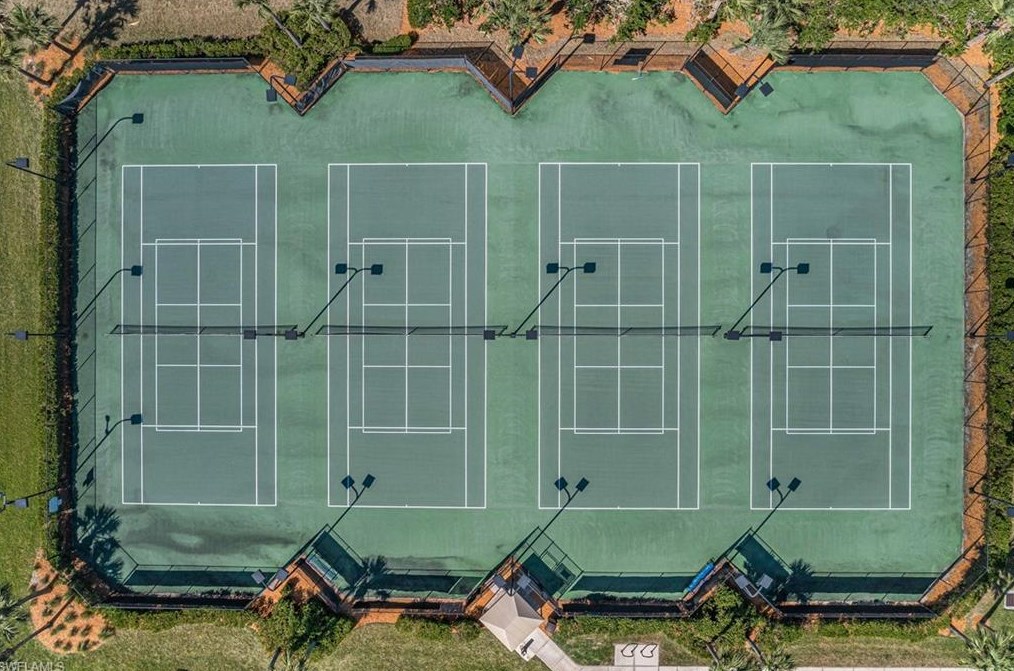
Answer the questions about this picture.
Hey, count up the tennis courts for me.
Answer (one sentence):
Altogether the scene contains 4 tennis courts.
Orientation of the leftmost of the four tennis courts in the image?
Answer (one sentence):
From this overhead view, the leftmost of the four tennis courts appears to run vertically.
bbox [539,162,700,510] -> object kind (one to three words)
tennis court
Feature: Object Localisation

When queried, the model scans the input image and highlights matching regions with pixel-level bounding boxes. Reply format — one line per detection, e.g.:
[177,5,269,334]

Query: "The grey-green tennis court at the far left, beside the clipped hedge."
[122,163,277,506]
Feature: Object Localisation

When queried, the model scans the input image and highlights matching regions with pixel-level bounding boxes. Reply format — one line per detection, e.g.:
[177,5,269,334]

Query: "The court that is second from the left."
[328,162,487,509]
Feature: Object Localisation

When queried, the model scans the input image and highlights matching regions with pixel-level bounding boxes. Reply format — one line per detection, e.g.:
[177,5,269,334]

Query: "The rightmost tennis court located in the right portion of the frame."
[751,163,912,511]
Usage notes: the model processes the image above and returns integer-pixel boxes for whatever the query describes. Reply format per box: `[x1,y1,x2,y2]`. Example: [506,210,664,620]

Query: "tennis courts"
[751,163,912,511]
[122,163,277,506]
[328,162,487,509]
[539,162,700,510]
